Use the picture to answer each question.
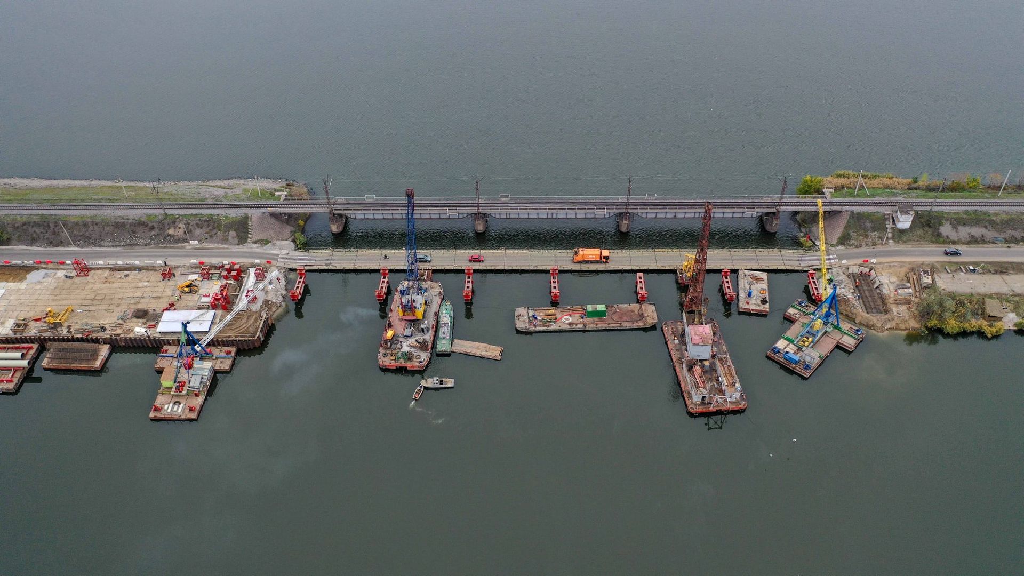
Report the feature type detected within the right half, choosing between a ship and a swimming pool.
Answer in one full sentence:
It is a ship that can be seen within the right half.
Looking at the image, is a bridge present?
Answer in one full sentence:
Yes, looking at the shot, I can spot a bridge.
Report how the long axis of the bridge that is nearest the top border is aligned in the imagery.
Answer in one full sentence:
What the image shows is the bridge that is nearest the top border lying horizontally.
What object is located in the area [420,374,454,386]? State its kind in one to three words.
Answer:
boat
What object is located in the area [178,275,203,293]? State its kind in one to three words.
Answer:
work vehicle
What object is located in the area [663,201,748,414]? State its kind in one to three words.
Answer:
ship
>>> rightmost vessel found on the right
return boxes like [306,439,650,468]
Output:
[766,198,866,378]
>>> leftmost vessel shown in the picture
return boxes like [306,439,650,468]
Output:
[0,343,41,393]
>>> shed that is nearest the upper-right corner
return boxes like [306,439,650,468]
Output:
[893,202,922,226]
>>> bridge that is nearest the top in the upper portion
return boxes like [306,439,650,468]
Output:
[272,187,840,235]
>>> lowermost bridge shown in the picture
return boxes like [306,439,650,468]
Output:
[277,246,840,274]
